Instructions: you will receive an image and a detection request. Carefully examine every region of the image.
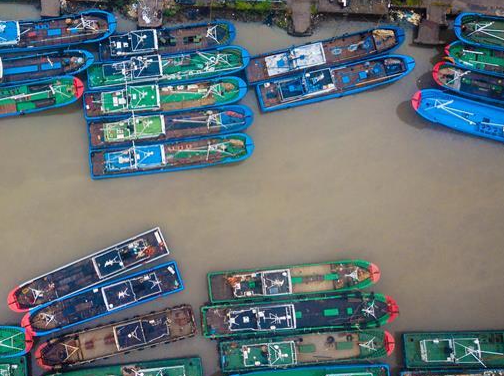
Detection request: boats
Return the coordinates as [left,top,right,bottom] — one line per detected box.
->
[223,363,390,376]
[255,55,417,113]
[199,294,402,338]
[216,330,398,372]
[91,137,256,179]
[245,30,406,87]
[444,43,504,81]
[398,330,504,367]
[453,15,504,54]
[88,107,254,150]
[84,79,249,121]
[22,262,184,334]
[0,325,36,357]
[41,358,203,376]
[0,14,118,54]
[99,25,238,63]
[34,307,196,365]
[412,92,504,145]
[0,76,87,117]
[6,228,171,306]
[432,63,504,106]
[0,51,95,87]
[208,260,382,301]
[87,48,252,92]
